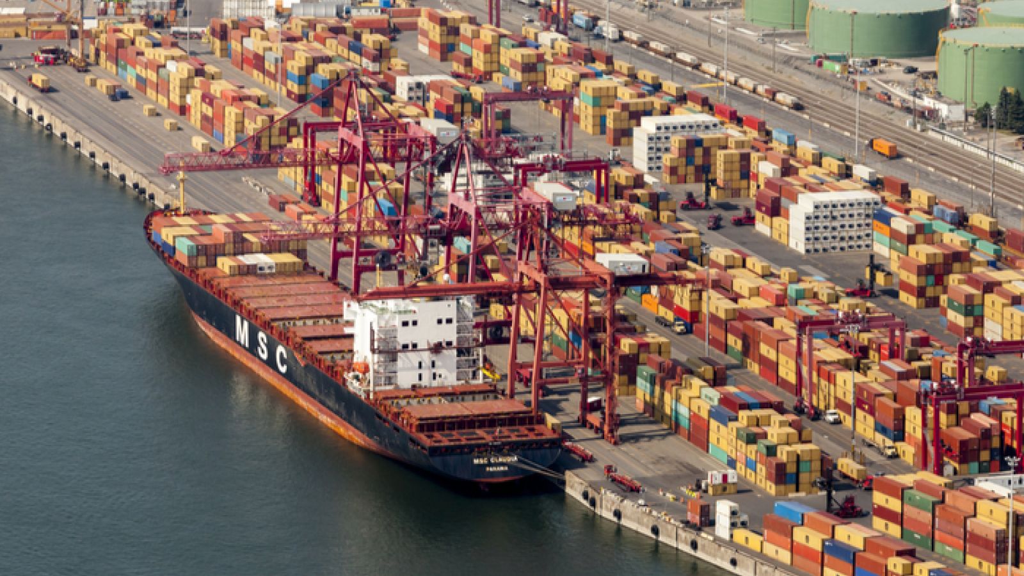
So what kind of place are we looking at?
port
